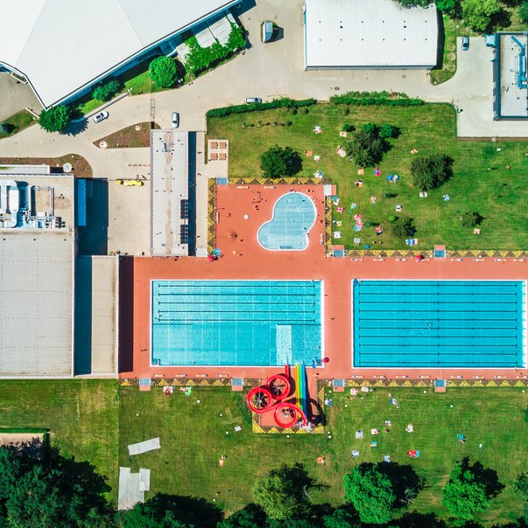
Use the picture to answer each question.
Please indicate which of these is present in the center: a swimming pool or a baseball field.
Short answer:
swimming pool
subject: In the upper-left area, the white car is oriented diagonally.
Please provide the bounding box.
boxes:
[92,111,109,123]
